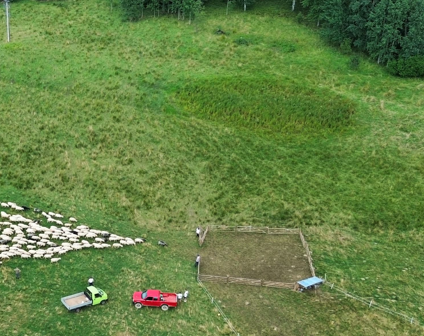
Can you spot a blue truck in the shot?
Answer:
No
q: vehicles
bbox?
[58,286,108,312]
[130,289,176,311]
